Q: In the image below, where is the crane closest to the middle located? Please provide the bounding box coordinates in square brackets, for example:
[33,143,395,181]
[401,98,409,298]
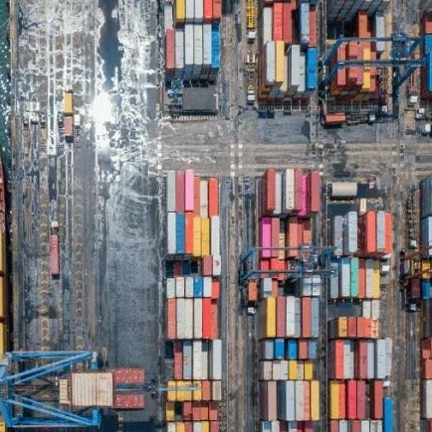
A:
[238,245,339,286]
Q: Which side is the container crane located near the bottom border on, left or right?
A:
left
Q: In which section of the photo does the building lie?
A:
top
